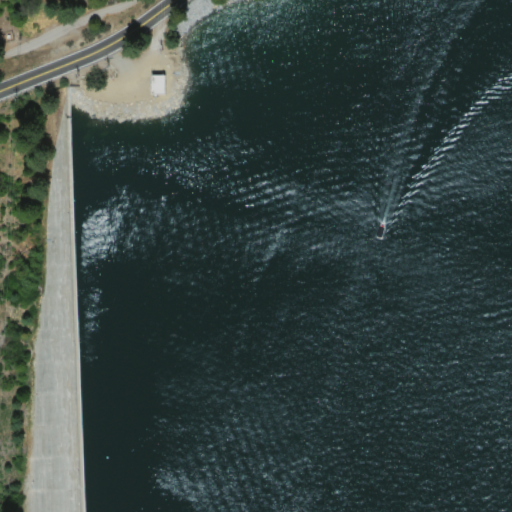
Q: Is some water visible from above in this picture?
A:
Yes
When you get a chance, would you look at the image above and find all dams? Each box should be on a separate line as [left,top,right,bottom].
[25,84,86,512]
